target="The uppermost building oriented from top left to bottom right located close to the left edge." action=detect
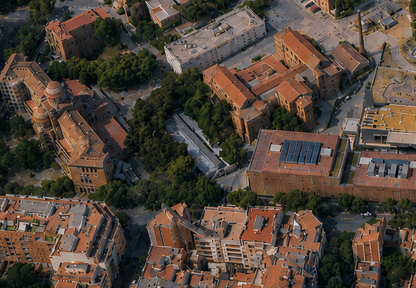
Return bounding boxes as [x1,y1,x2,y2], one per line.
[0,50,114,195]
